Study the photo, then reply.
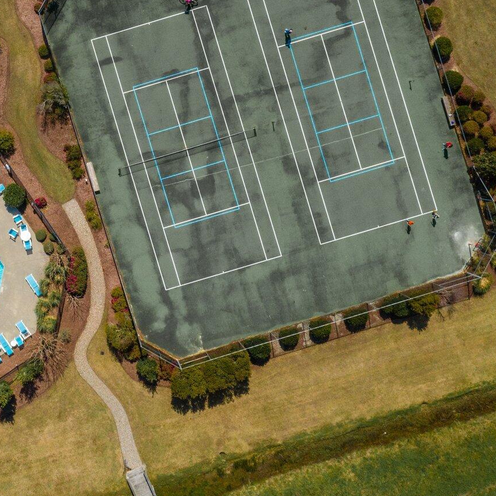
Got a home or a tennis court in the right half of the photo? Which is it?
tennis court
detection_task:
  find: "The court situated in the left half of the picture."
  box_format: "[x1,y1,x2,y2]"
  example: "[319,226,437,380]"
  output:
[91,5,281,291]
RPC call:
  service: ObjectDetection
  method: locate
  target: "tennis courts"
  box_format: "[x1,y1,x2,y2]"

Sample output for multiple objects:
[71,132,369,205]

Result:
[91,5,281,291]
[248,0,437,245]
